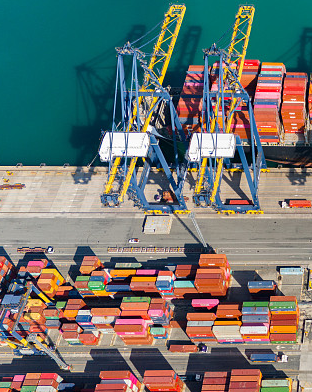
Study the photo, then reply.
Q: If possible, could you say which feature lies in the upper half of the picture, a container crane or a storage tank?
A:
container crane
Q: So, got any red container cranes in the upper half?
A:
No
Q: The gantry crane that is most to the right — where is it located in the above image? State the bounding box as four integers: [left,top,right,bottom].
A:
[188,3,270,218]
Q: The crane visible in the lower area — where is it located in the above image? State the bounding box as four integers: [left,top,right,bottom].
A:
[0,278,54,350]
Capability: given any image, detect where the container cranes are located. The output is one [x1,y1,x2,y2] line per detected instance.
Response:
[0,278,54,350]
[188,3,270,218]
[98,2,197,217]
